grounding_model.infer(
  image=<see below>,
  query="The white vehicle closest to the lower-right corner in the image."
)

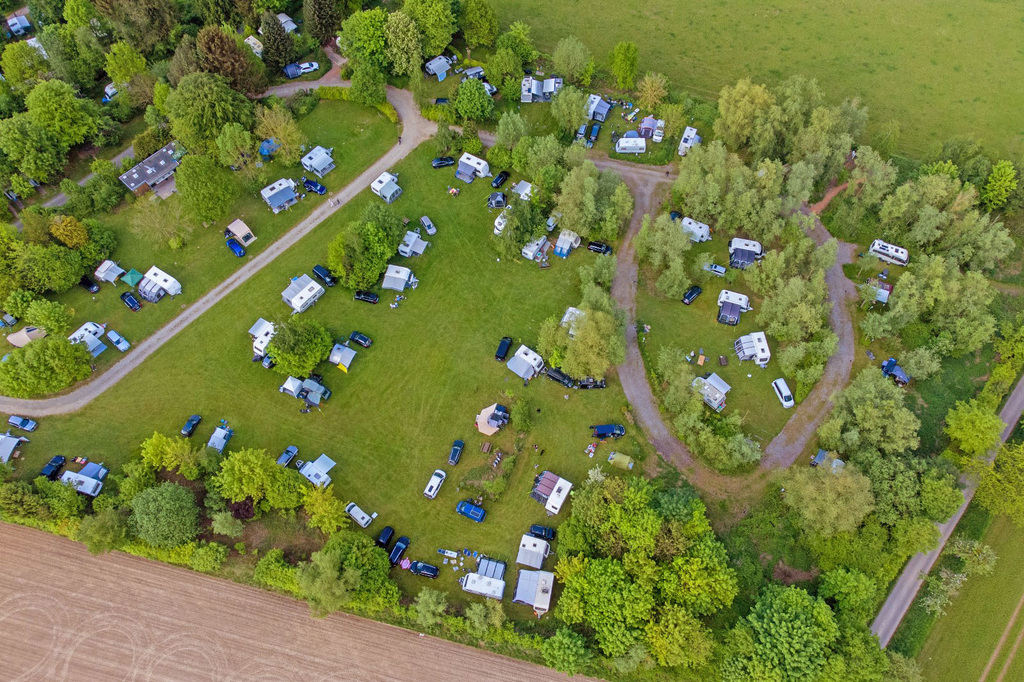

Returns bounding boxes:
[772,381,793,409]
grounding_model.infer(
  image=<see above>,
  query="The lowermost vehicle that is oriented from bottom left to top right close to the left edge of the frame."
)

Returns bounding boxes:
[38,453,70,477]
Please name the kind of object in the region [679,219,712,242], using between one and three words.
camper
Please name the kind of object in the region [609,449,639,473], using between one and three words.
tent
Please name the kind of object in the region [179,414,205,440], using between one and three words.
car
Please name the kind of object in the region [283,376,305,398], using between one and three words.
gazebo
